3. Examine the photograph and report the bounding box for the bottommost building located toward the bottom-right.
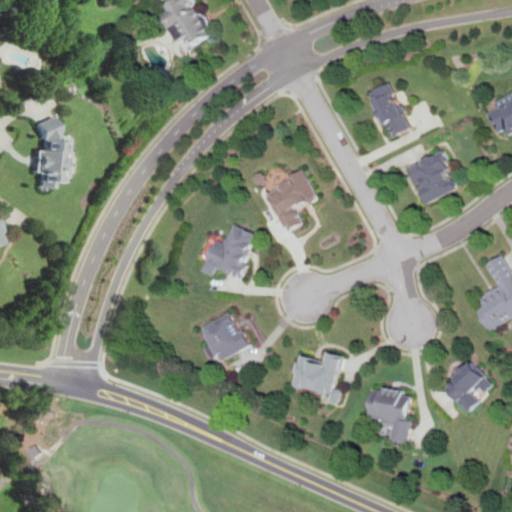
[366,388,410,444]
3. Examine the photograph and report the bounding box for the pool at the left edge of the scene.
[0,43,42,70]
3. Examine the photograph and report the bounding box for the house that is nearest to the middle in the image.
[200,226,254,278]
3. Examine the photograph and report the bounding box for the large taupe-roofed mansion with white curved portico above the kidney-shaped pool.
[158,0,210,56]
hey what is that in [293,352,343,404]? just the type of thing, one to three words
house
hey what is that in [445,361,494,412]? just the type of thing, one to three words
house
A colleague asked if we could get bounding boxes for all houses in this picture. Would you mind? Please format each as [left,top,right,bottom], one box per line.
[293,352,343,404]
[158,0,210,56]
[485,96,512,140]
[445,361,494,412]
[406,146,458,206]
[477,256,512,330]
[200,226,254,278]
[366,388,410,444]
[203,312,250,360]
[266,169,318,232]
[38,114,66,194]
[368,82,410,138]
